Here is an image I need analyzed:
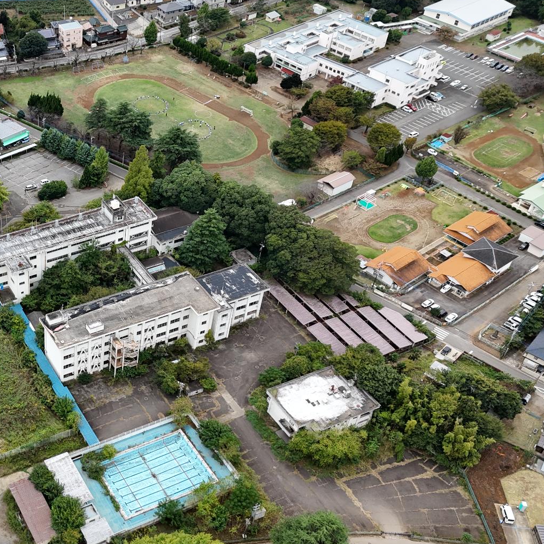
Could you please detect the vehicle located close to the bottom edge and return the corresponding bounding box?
[501,502,516,523]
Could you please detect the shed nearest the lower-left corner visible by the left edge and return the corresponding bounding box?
[9,477,60,544]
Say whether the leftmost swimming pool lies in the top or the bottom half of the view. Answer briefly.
bottom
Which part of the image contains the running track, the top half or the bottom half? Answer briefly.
top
